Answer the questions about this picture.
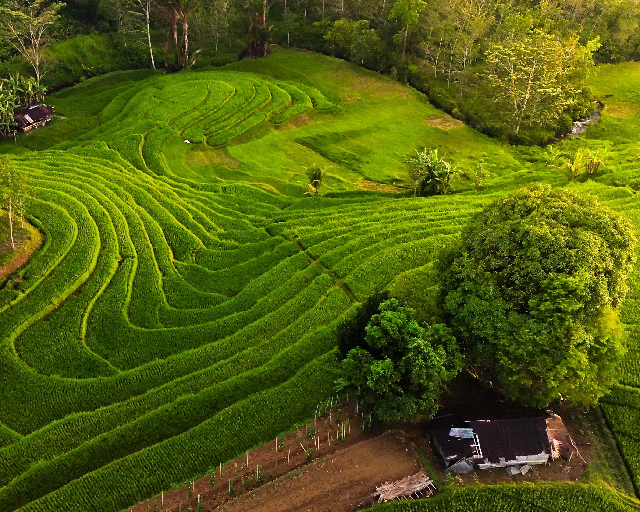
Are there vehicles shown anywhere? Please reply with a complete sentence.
No, no vehicle is visible in the view.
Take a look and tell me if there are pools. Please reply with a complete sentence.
No, the frame has no pool in it.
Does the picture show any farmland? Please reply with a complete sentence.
Yes, farmland can be seen from above here.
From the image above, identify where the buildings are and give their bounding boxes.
[15,104,55,138]
[424,406,575,478]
